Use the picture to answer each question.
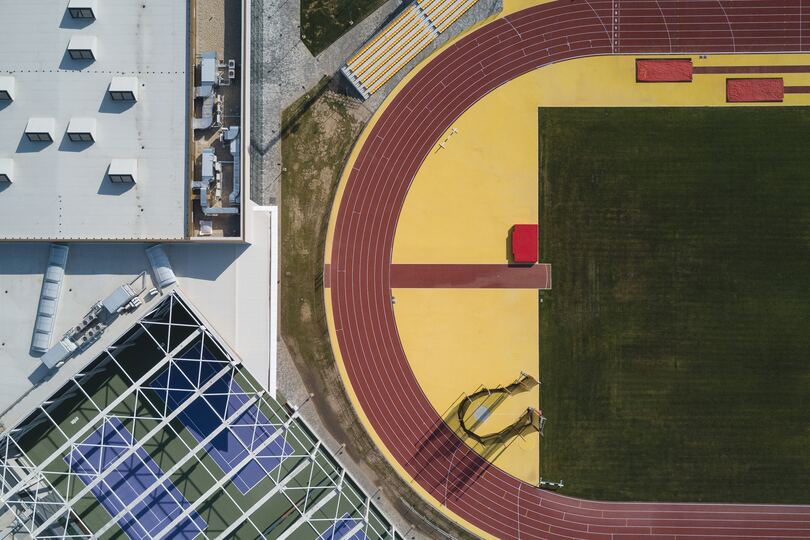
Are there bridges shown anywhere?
No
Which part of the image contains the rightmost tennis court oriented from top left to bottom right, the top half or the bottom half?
bottom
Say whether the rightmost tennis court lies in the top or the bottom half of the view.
bottom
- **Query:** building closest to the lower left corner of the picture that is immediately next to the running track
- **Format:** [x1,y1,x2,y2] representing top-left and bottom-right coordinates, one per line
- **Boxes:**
[0,199,281,445]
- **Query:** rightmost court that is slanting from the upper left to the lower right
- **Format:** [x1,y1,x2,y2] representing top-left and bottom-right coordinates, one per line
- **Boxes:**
[150,341,294,495]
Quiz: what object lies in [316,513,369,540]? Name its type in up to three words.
tennis court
